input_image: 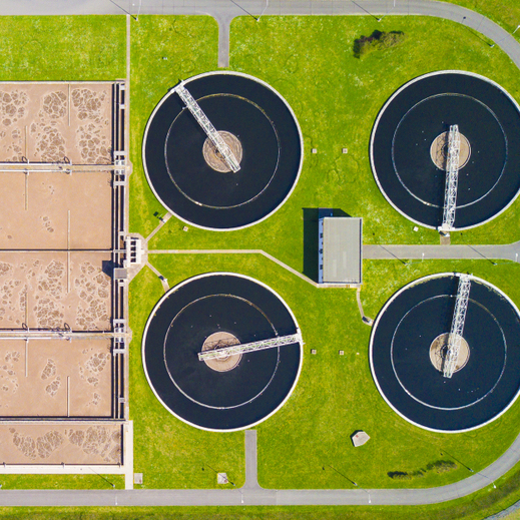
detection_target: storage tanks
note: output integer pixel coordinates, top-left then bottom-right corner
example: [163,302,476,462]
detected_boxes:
[142,272,301,431]
[142,70,302,231]
[369,70,520,231]
[368,272,520,432]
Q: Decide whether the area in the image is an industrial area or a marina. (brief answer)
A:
industrial area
